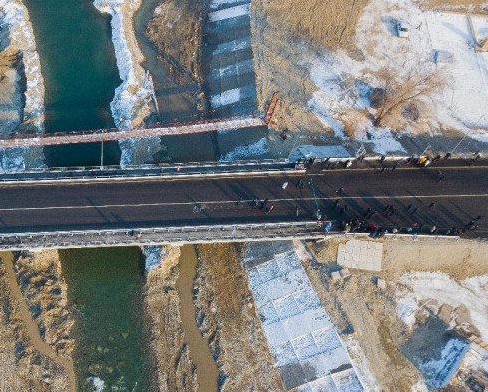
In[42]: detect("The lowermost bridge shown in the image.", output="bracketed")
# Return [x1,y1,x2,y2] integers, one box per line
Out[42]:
[0,160,332,252]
